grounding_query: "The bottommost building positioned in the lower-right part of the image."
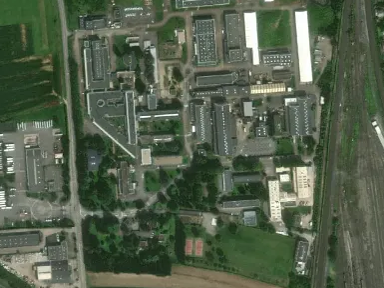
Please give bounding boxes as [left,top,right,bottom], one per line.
[296,242,309,272]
